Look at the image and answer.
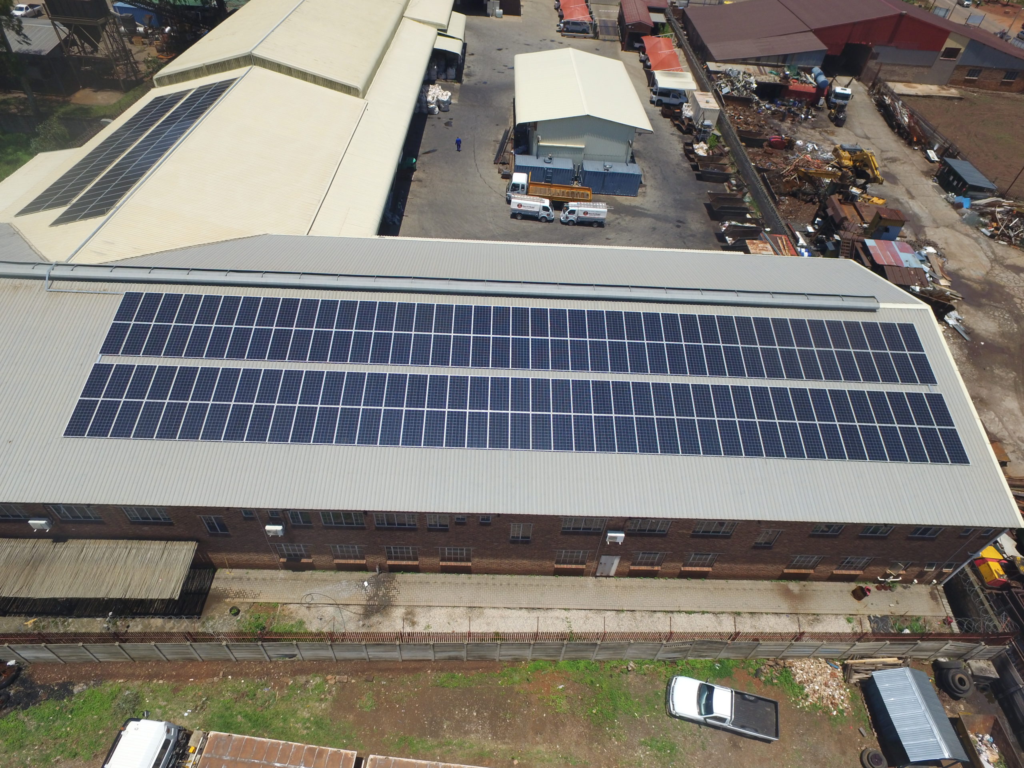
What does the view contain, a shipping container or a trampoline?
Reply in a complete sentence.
I can see a shipping container in this picture.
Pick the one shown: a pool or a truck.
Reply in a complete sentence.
The one in the frame is a truck.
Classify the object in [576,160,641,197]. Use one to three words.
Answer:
shipping container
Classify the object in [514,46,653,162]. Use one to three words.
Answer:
building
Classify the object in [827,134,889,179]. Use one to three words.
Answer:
work vehicle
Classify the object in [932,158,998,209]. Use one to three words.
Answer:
shed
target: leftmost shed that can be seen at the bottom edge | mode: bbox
[854,666,968,768]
